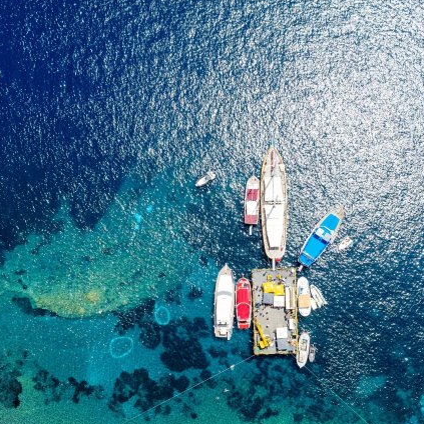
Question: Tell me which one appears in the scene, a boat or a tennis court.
boat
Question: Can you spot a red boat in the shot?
Yes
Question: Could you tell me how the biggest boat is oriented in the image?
from top to bottom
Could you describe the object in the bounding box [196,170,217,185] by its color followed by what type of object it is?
white boat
